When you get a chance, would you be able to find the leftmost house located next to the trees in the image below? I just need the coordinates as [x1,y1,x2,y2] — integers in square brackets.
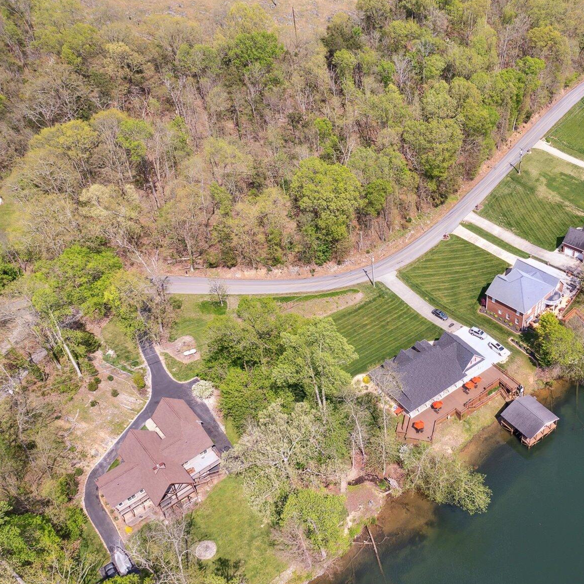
[94,396,234,538]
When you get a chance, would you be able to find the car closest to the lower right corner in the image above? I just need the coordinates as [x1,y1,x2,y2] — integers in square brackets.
[487,341,510,360]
